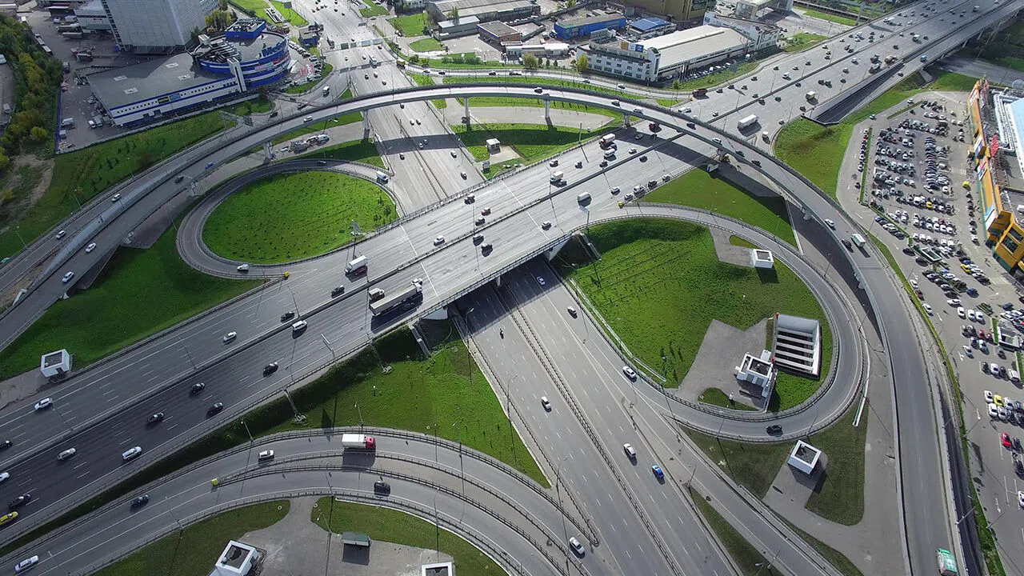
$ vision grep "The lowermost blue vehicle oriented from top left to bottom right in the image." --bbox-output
[651,465,664,480]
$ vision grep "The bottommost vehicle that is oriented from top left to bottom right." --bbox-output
[569,538,585,555]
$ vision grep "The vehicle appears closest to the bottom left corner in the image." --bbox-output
[15,556,37,573]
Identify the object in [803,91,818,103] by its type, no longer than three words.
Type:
vehicle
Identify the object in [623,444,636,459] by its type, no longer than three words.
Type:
vehicle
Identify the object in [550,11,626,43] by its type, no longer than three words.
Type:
building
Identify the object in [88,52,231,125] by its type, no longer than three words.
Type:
building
